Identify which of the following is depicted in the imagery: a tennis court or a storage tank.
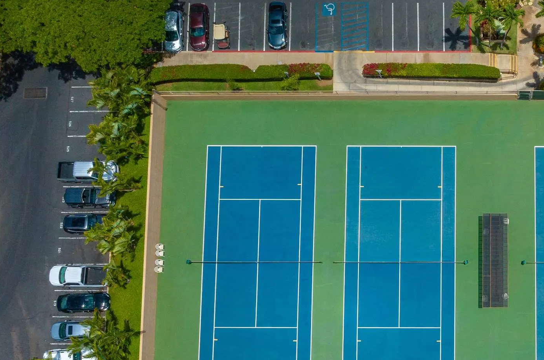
tennis court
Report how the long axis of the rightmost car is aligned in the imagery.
up and down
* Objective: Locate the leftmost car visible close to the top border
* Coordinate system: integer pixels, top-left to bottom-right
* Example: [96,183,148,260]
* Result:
[161,9,187,55]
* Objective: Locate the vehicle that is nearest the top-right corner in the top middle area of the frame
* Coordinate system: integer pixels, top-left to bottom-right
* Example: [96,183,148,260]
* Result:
[266,2,289,50]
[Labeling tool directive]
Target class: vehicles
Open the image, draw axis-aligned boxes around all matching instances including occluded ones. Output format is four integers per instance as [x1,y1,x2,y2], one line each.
[212,22,230,49]
[56,291,112,314]
[64,188,115,209]
[47,264,111,289]
[187,4,212,53]
[43,347,97,360]
[266,2,289,50]
[61,213,111,235]
[161,9,187,55]
[56,160,122,184]
[50,319,101,342]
